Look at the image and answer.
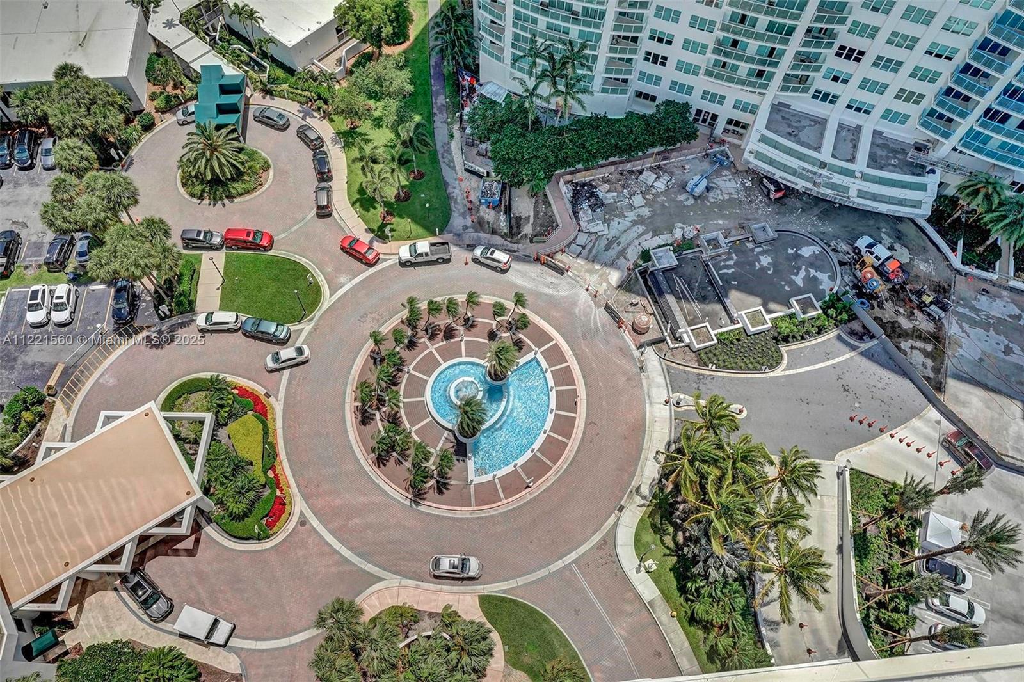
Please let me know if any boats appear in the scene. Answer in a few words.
No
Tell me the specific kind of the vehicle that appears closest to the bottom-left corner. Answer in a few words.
automobile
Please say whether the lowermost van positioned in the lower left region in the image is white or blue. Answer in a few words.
white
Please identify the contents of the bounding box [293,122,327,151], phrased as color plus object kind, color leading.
gray car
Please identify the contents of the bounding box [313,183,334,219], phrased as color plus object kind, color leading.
gray car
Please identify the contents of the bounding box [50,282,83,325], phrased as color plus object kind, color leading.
white car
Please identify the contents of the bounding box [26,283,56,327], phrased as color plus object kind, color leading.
white car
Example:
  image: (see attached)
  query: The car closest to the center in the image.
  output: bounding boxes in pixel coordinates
[470,246,515,273]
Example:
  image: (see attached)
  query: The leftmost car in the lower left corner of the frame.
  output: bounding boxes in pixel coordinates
[118,570,172,621]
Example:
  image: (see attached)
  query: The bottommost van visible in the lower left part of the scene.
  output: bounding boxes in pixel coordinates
[168,604,235,649]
